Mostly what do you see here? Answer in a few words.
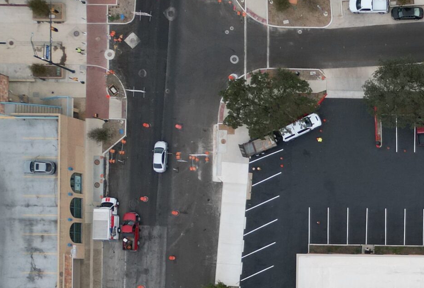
paved ground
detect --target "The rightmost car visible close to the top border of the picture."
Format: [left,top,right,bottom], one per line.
[391,5,424,22]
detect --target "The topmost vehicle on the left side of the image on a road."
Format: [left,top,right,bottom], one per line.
[150,141,169,173]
